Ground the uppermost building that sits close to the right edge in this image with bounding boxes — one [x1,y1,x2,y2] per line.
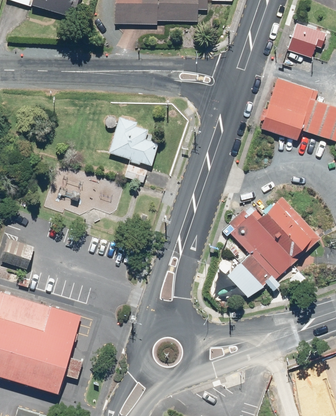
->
[288,22,326,57]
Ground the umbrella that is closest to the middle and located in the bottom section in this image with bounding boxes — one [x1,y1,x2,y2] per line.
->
[218,259,232,272]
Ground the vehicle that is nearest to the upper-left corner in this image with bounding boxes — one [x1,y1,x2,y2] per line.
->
[94,18,106,33]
